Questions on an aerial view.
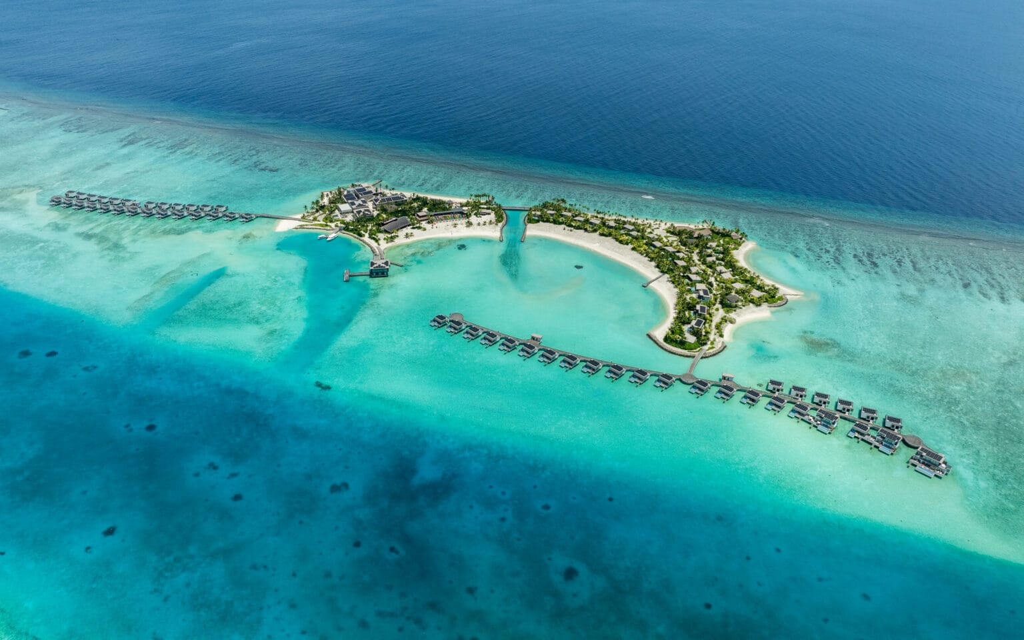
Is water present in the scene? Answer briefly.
Yes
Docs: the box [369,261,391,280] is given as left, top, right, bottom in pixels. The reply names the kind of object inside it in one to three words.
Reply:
building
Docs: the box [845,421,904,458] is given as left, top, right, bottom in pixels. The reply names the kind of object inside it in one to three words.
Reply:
house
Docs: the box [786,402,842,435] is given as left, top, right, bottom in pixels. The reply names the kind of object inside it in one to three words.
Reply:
house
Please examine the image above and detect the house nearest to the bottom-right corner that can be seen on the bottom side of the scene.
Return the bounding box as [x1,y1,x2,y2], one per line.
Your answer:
[906,446,953,477]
